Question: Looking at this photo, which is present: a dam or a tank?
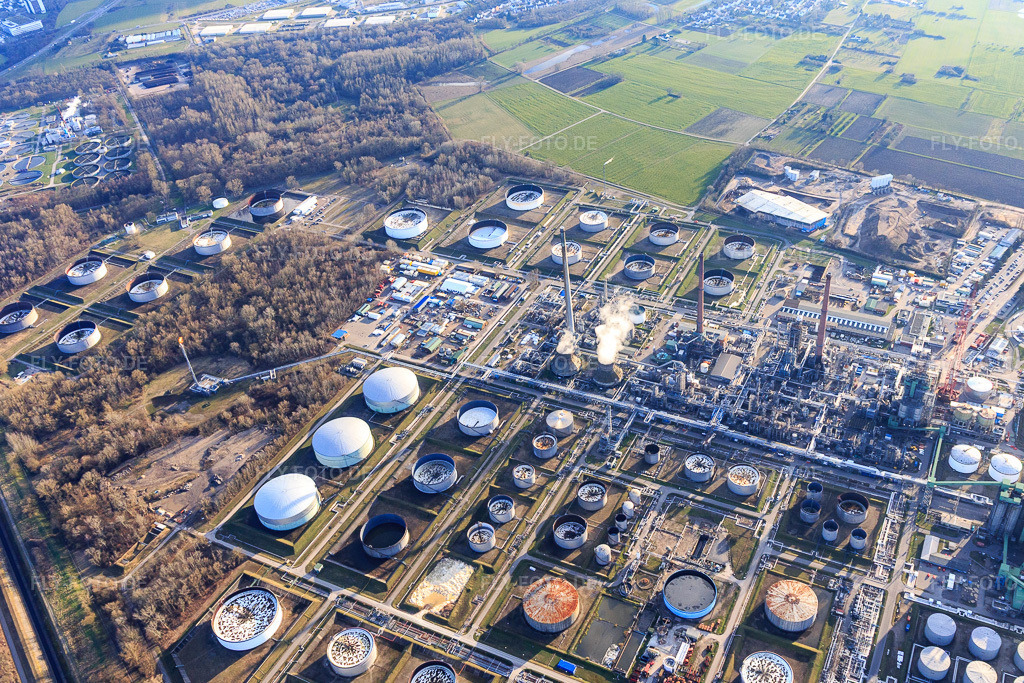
tank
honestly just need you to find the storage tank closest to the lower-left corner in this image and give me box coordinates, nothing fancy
[210,586,282,651]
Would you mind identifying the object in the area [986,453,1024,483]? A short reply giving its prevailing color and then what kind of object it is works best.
white storage tank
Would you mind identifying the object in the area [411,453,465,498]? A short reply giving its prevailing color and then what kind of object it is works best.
blue storage tank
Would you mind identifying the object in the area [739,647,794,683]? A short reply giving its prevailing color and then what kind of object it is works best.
white storage tank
